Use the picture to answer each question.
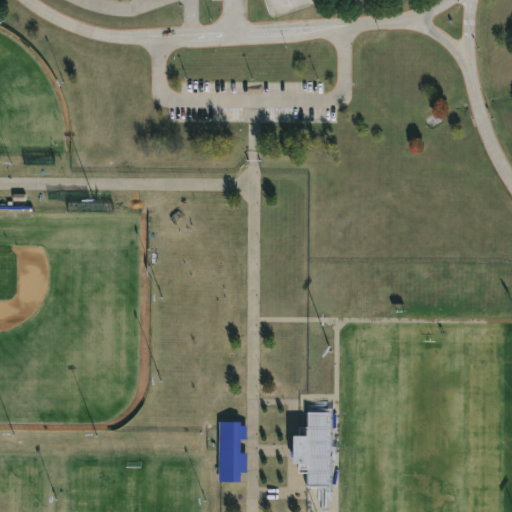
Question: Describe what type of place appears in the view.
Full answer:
The area seen from above is a sports ground.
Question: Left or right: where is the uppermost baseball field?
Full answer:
You can find the uppermost baseball field on the left side of the picture.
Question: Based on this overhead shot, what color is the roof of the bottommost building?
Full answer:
From above, the roof of the bottommost building looks blue.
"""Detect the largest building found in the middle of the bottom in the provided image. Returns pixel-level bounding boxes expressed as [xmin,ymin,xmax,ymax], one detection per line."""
[218,422,248,482]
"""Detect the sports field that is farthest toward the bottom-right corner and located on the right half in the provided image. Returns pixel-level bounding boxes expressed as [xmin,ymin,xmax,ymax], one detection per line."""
[340,323,512,512]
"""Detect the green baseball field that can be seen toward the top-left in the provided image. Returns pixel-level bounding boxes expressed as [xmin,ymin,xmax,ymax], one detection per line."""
[0,26,72,160]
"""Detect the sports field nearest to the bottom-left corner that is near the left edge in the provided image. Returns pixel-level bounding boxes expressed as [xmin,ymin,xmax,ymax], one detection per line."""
[0,456,52,512]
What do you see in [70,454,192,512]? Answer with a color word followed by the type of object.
green soccer field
